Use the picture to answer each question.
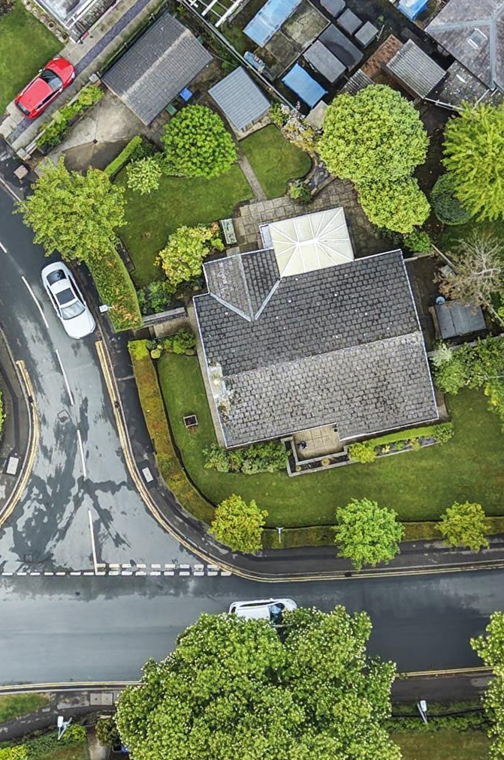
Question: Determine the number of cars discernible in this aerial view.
3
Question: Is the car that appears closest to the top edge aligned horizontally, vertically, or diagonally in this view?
diagonally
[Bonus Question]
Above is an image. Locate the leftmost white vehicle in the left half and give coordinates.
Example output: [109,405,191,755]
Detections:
[44,259,92,341]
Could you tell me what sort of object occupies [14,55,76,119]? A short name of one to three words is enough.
car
